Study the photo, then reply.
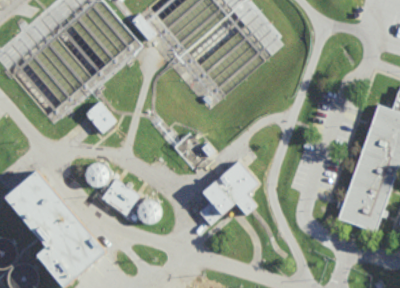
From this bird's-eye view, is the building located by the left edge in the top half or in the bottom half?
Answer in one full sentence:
It is in the bottom half that the building located by the left edge appears.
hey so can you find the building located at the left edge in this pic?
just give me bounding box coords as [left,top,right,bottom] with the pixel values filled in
[6,172,106,288]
